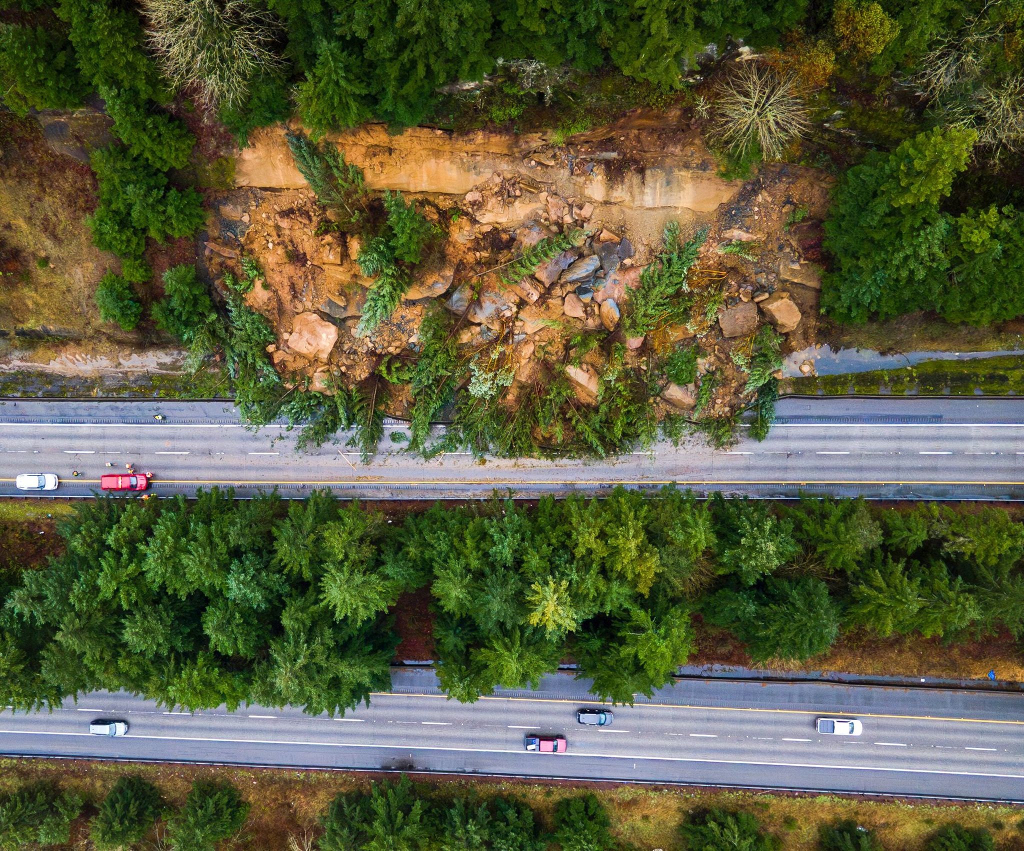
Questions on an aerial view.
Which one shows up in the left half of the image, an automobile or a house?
automobile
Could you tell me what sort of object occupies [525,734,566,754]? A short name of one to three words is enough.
vehicle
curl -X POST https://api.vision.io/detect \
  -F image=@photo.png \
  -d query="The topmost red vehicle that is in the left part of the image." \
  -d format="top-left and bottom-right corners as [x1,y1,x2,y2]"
[99,473,151,492]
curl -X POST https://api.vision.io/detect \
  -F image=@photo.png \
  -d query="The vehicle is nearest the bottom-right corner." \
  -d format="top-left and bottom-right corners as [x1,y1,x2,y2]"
[815,716,861,737]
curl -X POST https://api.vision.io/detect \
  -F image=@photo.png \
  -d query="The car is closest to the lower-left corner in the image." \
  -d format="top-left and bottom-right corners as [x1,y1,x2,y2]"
[91,718,130,737]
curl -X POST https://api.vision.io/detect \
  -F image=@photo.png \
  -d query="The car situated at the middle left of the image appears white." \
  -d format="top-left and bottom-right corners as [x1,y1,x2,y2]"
[16,472,62,491]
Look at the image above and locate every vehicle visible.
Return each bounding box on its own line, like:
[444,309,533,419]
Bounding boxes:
[576,708,612,727]
[91,718,130,737]
[815,716,861,737]
[525,734,566,754]
[16,472,62,491]
[99,473,151,492]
